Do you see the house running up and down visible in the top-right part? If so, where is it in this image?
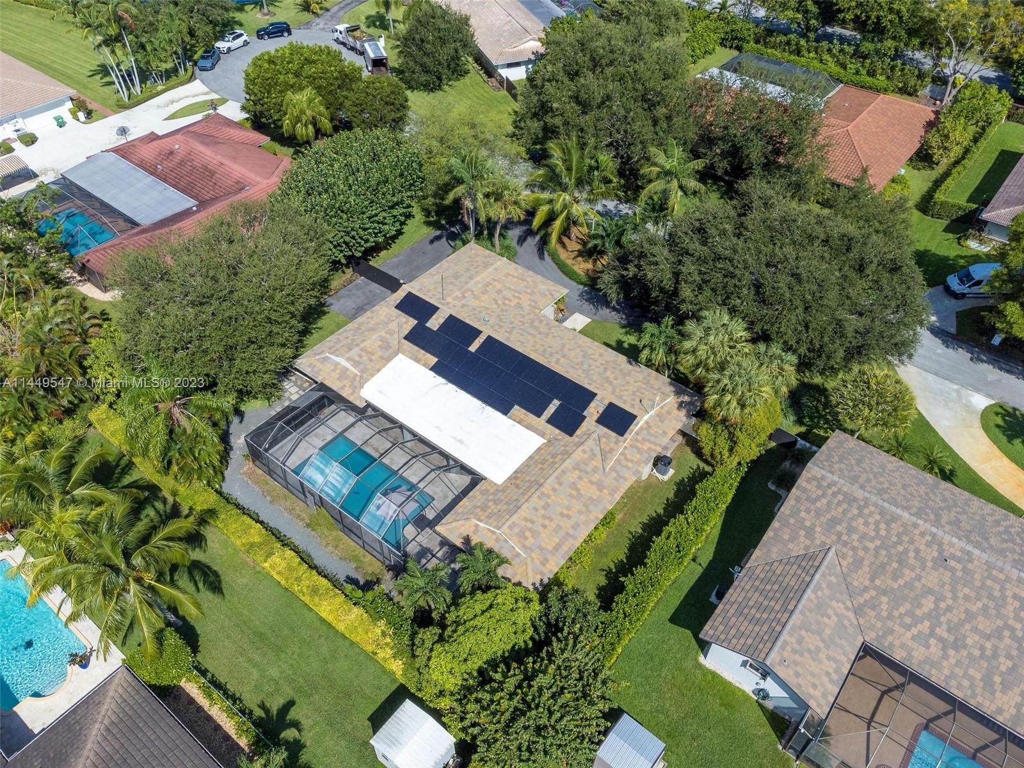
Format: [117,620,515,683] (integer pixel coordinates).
[979,152,1024,252]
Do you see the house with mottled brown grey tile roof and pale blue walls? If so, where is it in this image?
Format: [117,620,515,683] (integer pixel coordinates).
[699,428,1024,738]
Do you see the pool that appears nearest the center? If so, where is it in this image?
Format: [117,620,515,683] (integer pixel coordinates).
[291,432,436,556]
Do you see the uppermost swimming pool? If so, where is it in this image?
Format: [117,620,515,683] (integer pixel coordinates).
[45,205,120,252]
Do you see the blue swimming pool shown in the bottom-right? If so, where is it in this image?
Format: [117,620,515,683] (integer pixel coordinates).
[895,724,994,768]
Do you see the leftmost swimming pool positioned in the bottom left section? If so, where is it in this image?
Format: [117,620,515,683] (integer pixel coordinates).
[0,549,94,703]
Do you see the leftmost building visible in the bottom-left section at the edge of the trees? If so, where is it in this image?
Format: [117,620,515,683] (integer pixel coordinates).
[0,662,225,768]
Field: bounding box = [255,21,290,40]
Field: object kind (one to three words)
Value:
car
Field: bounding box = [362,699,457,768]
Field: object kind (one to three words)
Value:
shed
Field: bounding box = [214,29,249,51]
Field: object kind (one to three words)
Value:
car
